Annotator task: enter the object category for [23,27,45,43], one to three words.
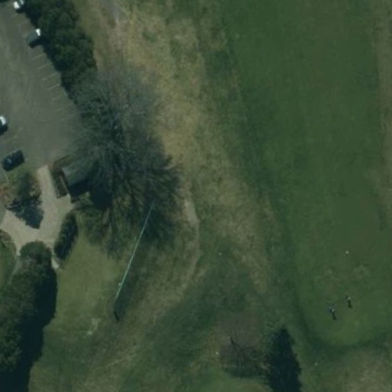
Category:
car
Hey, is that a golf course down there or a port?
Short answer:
golf course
